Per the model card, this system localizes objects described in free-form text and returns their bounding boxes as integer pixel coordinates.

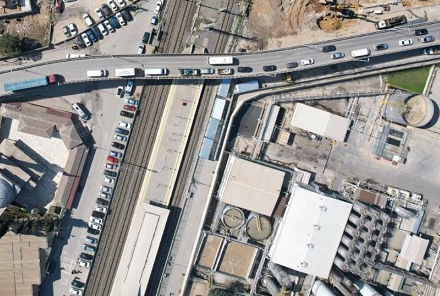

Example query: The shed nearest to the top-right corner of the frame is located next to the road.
[284,102,351,142]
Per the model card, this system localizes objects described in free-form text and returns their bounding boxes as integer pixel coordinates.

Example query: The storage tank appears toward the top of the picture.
[389,93,437,128]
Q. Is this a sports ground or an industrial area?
industrial area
